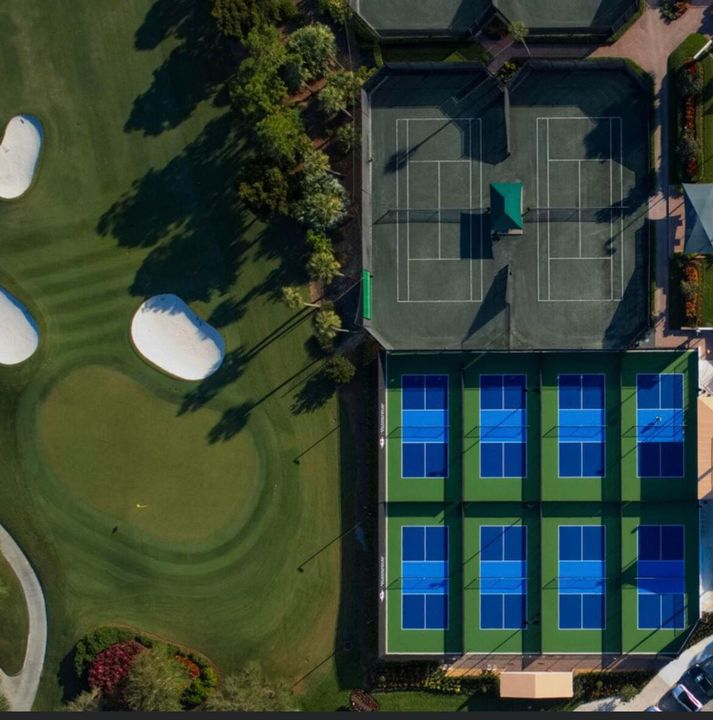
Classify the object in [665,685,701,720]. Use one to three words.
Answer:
car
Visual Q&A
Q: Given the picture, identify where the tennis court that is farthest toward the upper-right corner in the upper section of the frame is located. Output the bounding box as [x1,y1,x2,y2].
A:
[494,0,635,26]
